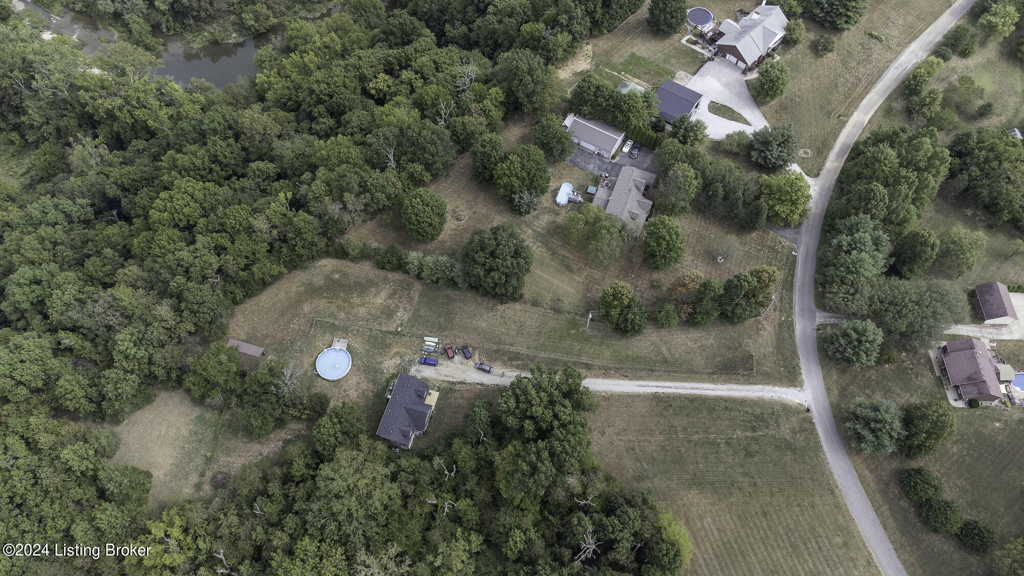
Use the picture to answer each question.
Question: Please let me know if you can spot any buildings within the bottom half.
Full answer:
Yes, the scene does show a building within the bottom half.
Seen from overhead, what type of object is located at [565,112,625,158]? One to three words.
building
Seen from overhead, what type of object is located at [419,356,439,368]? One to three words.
vehicle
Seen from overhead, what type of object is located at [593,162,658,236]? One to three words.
house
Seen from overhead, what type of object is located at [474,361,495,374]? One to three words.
vehicle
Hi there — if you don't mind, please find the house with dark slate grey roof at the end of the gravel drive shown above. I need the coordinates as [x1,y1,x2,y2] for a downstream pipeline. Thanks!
[375,373,439,449]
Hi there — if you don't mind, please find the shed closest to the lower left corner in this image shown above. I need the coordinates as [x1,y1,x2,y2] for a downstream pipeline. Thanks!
[225,336,268,374]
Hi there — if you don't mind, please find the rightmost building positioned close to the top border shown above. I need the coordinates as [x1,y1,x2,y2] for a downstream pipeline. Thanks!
[707,0,790,69]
